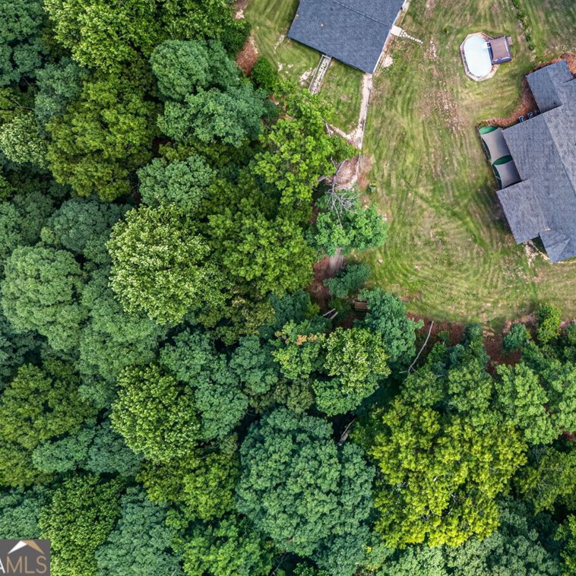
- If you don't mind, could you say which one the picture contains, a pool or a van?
pool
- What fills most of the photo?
trees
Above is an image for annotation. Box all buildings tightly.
[286,0,404,74]
[495,58,576,265]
